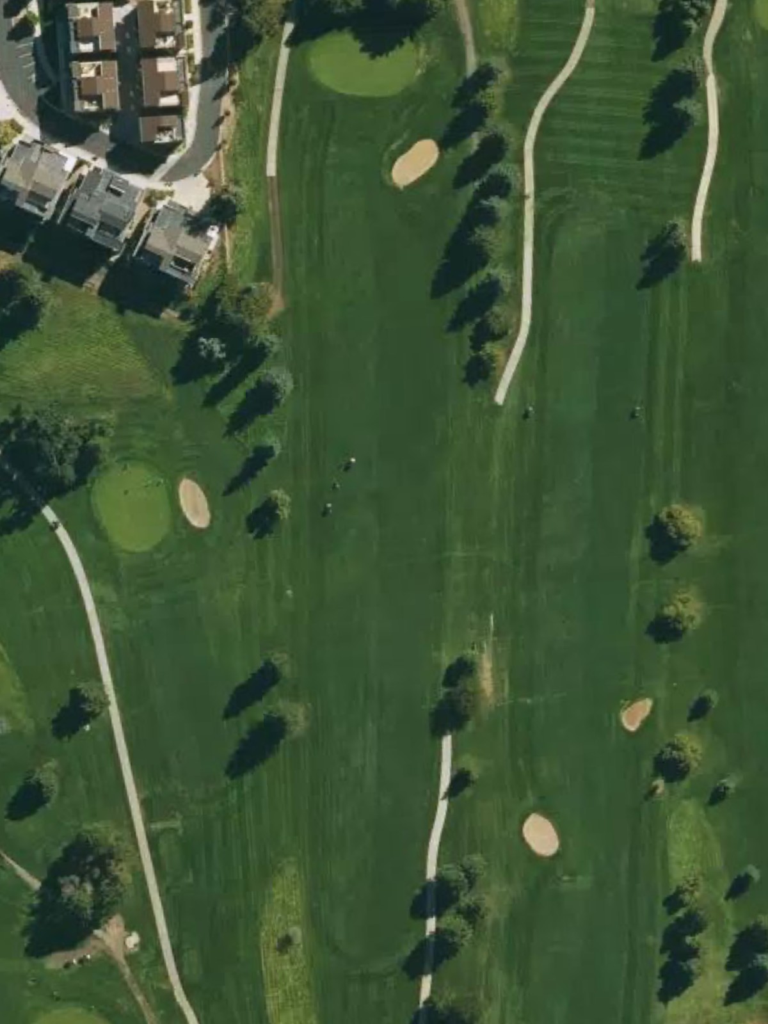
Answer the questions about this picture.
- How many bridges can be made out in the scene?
zero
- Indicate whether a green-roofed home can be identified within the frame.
No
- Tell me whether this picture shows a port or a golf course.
golf course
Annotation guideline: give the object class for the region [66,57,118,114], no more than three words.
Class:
house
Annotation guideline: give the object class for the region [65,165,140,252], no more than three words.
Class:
house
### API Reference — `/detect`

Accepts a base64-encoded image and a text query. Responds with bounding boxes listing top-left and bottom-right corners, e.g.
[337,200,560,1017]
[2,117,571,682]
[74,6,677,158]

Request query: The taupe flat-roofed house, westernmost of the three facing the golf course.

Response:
[0,138,63,225]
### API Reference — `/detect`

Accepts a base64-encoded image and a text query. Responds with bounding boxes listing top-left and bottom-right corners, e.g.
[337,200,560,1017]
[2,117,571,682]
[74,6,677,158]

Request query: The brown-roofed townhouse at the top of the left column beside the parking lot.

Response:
[62,0,114,56]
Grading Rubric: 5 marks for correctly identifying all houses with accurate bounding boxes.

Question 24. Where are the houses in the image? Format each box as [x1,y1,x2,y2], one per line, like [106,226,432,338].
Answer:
[0,138,63,225]
[133,0,180,49]
[140,201,215,288]
[135,112,181,146]
[65,165,140,252]
[62,0,114,56]
[66,57,118,114]
[137,54,185,110]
